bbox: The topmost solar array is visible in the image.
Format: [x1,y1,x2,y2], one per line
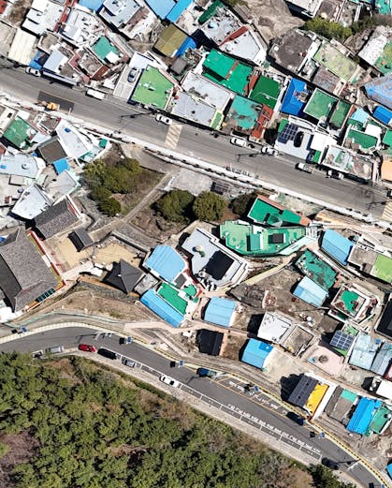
[276,123,297,143]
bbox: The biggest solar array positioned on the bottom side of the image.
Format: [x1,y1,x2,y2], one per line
[330,330,353,350]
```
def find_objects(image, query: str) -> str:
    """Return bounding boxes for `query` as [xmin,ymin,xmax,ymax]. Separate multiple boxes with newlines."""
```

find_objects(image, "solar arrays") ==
[330,330,353,350]
[276,123,297,143]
